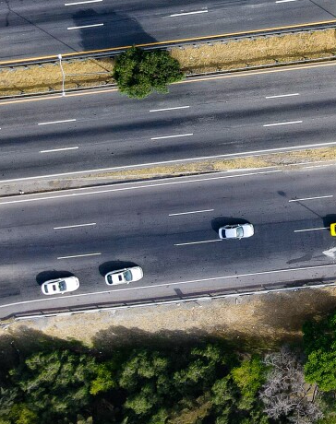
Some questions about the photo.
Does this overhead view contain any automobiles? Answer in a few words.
Yes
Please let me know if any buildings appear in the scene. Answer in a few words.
No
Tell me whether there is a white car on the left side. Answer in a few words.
Yes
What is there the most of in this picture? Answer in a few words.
paved ground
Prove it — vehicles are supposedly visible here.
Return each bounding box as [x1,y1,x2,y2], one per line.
[218,221,256,240]
[40,274,81,294]
[330,222,336,236]
[104,265,144,286]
